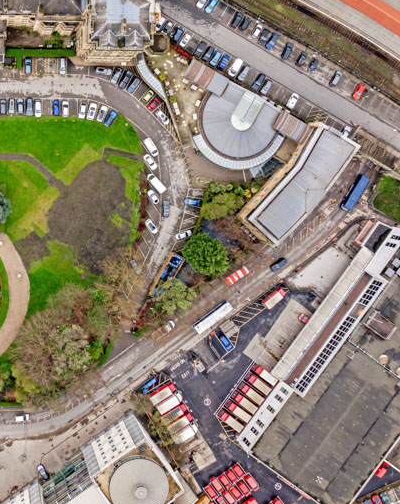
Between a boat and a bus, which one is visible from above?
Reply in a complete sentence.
I can see a bus in this picture.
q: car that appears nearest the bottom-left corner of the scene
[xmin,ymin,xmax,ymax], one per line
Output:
[37,462,50,479]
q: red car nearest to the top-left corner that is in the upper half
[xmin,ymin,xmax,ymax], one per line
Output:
[146,97,161,111]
